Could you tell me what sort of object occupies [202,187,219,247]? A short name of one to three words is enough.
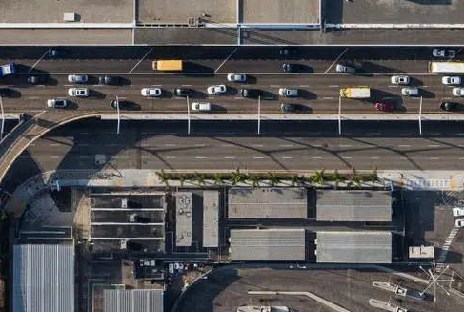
building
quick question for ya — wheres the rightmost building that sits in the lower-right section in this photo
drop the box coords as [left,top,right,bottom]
[408,245,435,259]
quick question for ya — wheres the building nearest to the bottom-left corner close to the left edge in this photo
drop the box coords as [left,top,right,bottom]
[12,242,76,312]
